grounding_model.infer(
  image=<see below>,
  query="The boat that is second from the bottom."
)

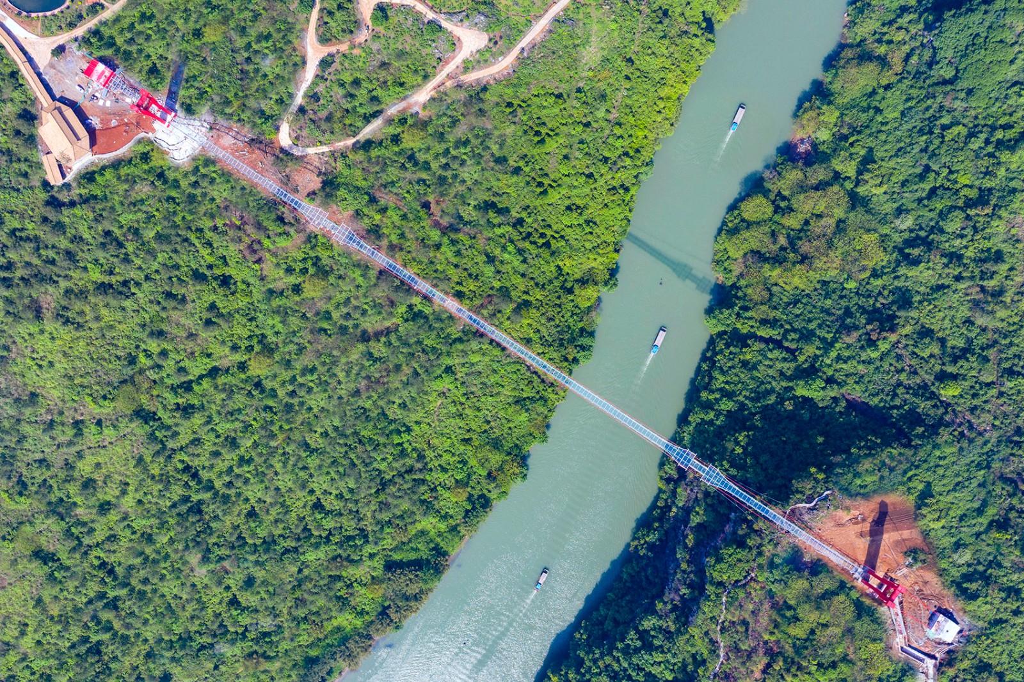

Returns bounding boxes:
[652,326,666,355]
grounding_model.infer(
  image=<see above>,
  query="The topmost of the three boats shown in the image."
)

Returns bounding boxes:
[731,101,745,132]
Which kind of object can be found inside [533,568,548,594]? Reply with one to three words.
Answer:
boat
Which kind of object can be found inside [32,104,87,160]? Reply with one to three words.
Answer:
building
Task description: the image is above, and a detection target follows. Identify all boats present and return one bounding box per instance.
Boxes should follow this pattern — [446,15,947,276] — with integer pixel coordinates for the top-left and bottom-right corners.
[533,568,548,594]
[652,326,666,355]
[731,101,745,132]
